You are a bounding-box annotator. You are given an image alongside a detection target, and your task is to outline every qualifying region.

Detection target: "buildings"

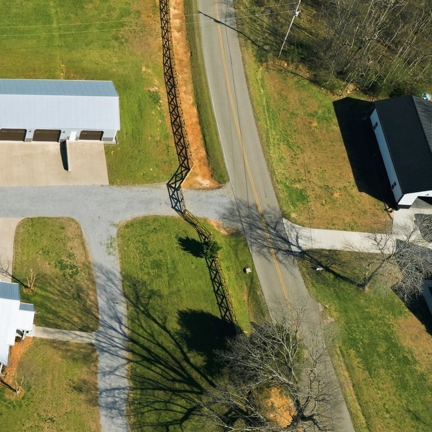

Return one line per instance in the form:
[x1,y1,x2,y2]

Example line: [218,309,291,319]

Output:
[0,280,34,381]
[0,78,121,144]
[416,260,432,307]
[350,87,432,206]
